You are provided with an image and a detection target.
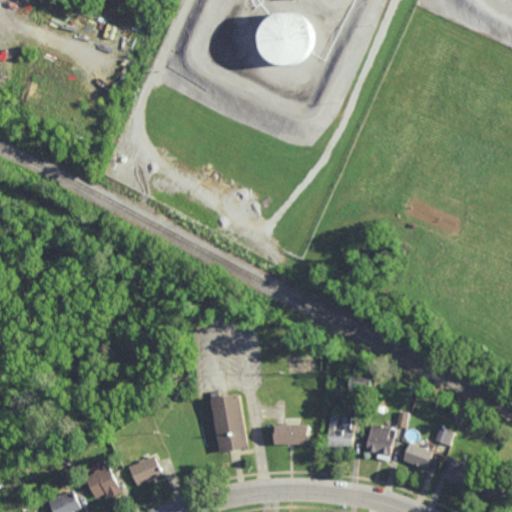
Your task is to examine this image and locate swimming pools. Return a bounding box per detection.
[404,428,421,444]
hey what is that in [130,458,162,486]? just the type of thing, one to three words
house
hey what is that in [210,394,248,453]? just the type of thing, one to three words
building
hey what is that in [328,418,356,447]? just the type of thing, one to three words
house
